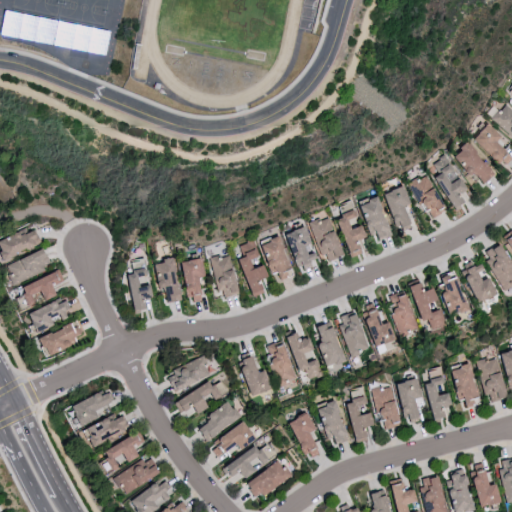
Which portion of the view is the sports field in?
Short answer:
top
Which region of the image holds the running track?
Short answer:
top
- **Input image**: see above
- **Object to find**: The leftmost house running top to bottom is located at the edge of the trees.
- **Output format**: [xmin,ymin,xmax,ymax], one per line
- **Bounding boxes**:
[128,260,152,314]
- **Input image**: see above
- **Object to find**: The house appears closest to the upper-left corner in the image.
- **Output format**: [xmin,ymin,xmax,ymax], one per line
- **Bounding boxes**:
[0,228,40,263]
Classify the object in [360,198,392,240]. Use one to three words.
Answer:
house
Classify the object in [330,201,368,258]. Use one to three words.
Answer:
house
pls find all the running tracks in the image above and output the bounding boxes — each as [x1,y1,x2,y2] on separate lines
[144,0,302,108]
